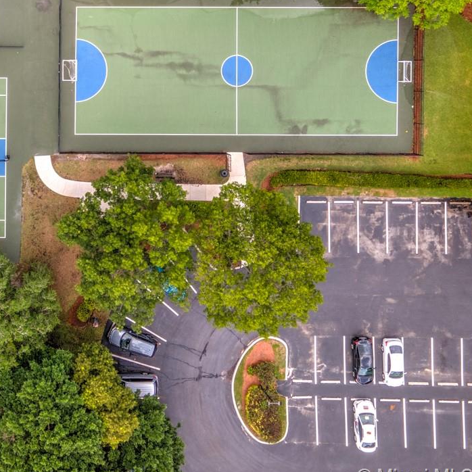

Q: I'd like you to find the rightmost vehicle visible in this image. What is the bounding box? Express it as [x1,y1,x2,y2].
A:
[382,338,408,386]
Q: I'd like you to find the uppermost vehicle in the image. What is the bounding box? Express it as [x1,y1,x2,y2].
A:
[106,323,159,356]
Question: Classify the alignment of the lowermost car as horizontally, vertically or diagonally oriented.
vertically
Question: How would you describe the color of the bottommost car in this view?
white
